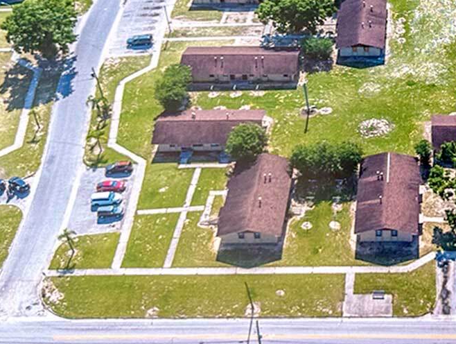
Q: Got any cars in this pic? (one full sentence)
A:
Yes, looking at the shot, I can spot a car.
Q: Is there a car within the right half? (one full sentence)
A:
No, there's no car to be seen within the right half.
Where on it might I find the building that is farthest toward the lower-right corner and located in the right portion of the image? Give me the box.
[351,153,422,244]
